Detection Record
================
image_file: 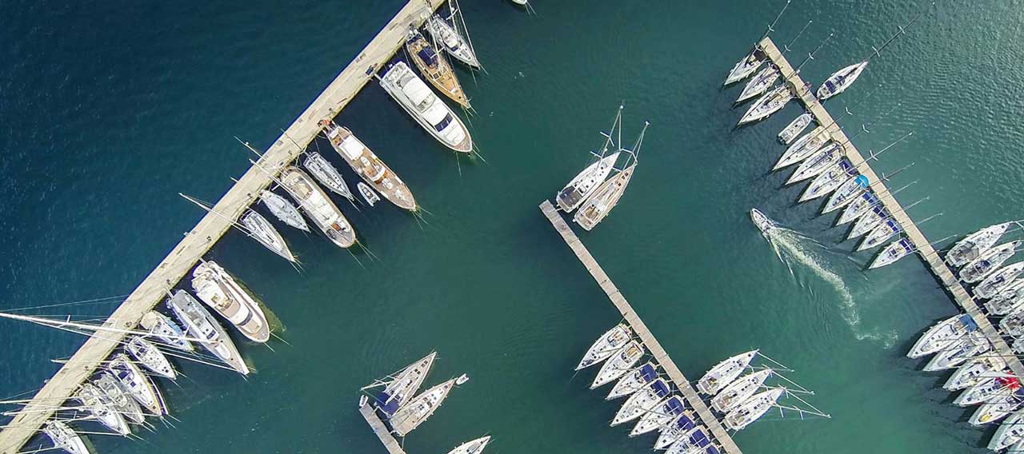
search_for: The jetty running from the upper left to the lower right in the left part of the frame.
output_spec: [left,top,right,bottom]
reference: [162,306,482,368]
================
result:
[359,404,405,454]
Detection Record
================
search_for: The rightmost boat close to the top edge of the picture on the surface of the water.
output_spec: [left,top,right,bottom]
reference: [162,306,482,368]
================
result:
[805,0,933,109]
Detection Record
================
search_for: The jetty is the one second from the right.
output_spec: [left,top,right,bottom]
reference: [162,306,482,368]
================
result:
[539,199,742,454]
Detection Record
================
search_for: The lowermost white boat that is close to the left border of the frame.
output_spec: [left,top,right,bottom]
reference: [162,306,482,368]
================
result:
[2,413,93,454]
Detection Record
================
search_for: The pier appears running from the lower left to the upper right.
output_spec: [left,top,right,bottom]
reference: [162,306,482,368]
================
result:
[0,0,447,454]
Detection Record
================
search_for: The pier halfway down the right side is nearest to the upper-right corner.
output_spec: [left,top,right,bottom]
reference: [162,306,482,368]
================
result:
[761,37,1024,385]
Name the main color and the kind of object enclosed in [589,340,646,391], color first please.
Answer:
white boat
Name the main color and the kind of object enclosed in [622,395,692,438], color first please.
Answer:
white boat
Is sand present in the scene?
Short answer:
No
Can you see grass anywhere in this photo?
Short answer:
No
